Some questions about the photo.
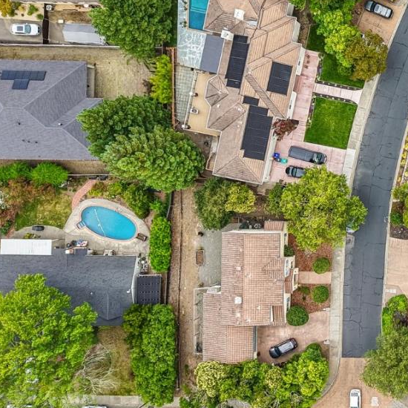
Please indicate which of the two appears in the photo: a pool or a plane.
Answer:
pool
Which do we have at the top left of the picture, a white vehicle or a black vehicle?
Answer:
white vehicle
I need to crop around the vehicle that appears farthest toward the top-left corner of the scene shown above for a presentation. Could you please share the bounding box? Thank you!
[7,20,34,37]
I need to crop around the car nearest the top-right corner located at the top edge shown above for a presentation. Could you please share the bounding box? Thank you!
[361,0,394,20]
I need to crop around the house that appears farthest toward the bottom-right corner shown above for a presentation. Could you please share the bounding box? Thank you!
[202,220,298,365]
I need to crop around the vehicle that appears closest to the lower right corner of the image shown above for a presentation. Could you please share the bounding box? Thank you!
[345,386,363,408]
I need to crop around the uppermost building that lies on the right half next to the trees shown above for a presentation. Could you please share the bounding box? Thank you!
[183,0,310,184]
